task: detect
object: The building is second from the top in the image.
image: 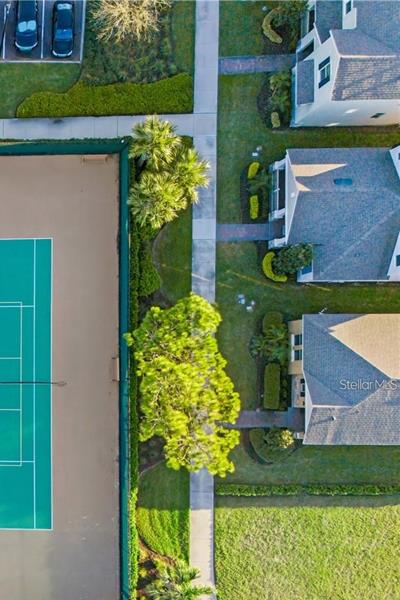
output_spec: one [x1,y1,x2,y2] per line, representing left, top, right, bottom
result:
[270,143,400,282]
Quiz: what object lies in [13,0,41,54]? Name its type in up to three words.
car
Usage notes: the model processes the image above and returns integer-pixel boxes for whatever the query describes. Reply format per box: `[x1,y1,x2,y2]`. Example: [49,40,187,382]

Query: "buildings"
[288,310,400,445]
[270,143,400,282]
[291,0,400,125]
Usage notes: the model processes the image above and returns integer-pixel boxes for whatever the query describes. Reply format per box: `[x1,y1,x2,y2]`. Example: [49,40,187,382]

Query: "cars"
[49,0,78,59]
[13,0,41,54]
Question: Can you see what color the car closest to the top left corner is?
blue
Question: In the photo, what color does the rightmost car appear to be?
blue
